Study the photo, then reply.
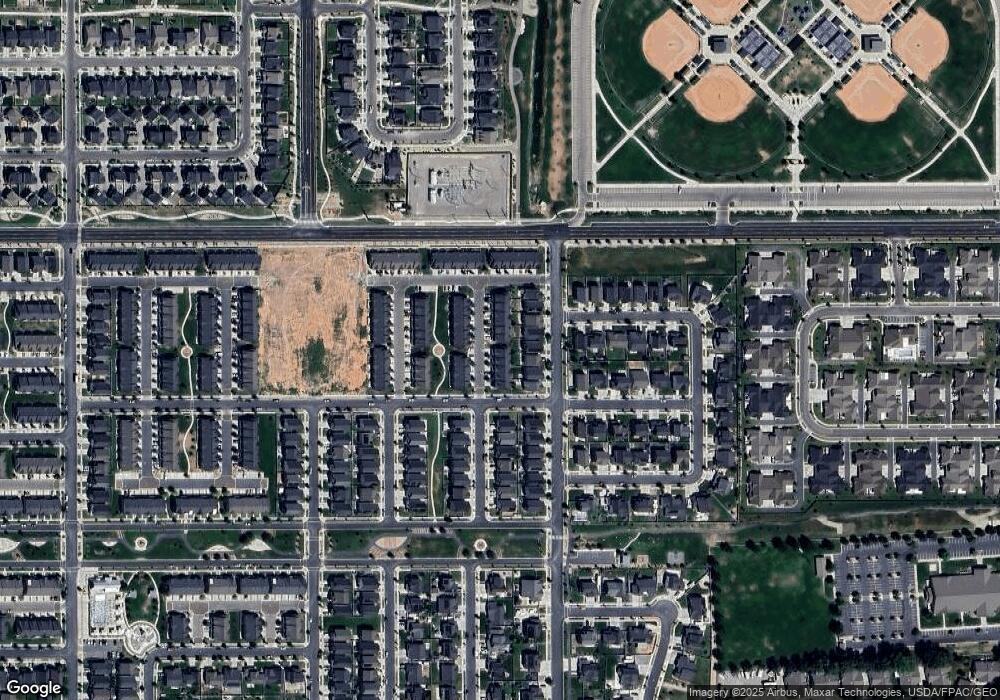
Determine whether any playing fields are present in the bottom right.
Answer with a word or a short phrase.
Yes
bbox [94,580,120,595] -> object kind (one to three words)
building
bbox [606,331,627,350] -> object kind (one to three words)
house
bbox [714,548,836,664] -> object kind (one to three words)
sports field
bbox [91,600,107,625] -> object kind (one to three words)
swimming pool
